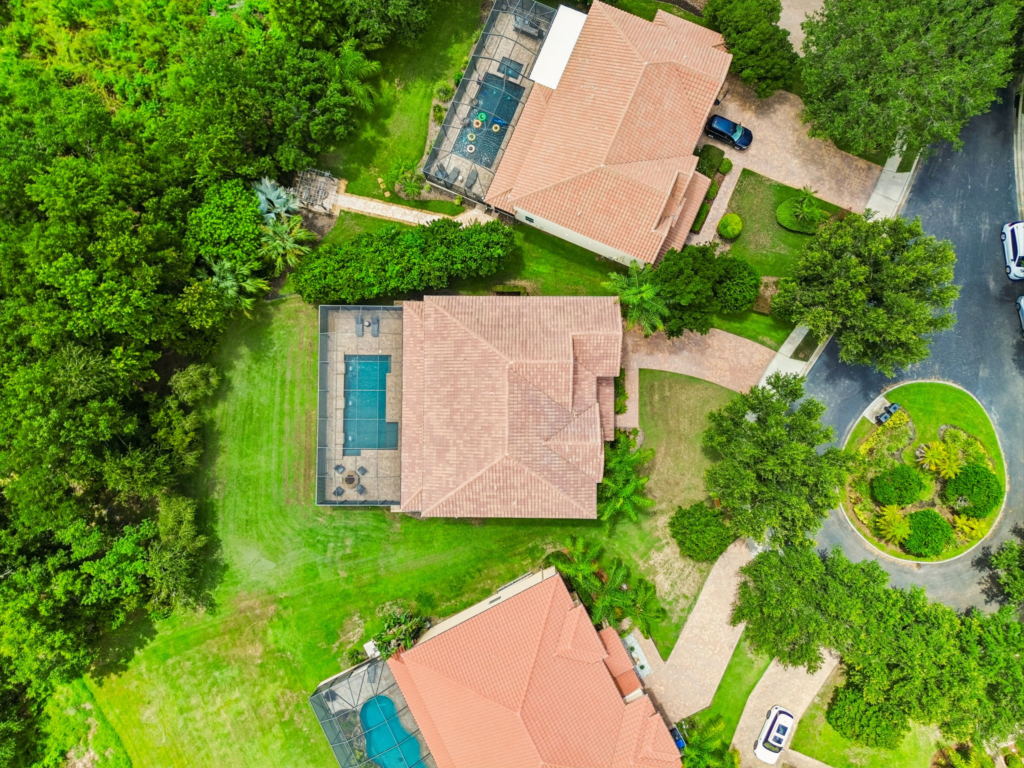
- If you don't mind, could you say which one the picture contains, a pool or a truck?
pool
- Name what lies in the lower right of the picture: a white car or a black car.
white car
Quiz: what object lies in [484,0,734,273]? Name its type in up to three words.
house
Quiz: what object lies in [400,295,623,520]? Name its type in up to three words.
house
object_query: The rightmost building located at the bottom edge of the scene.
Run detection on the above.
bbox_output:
[386,568,684,768]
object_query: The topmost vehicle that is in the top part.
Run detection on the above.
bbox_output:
[706,113,755,149]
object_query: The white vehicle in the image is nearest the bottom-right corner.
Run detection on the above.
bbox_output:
[751,701,788,757]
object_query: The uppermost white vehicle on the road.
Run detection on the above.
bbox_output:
[999,224,1024,275]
